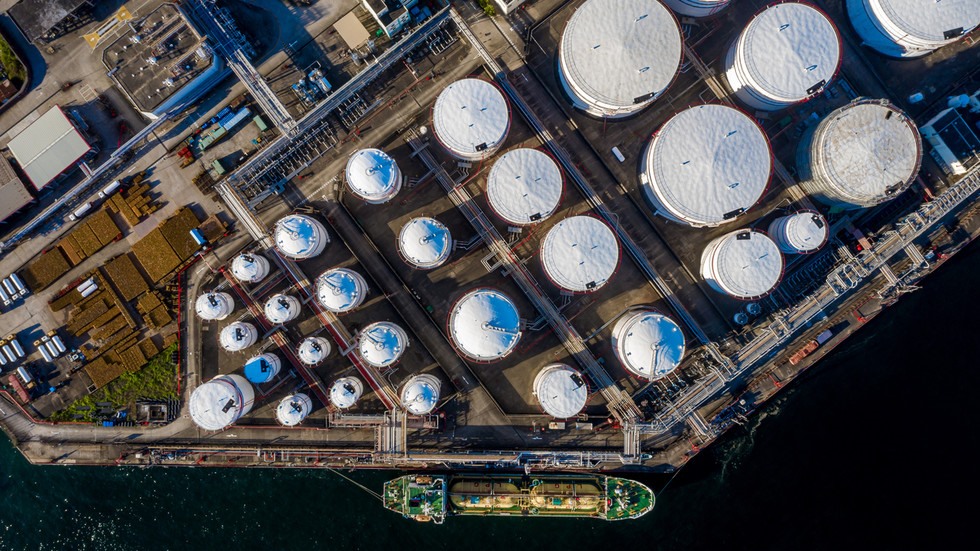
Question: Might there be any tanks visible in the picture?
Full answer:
Yes, this view includes a tank.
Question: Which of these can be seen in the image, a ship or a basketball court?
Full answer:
This aerial view contains a ship.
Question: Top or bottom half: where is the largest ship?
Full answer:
It is in the bottom half that the largest ship appears.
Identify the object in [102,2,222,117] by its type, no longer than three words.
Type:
building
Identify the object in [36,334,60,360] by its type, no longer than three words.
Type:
truck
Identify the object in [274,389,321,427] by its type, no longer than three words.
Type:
storage tank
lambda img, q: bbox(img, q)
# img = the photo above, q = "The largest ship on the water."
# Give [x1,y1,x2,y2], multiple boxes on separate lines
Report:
[382,474,657,523]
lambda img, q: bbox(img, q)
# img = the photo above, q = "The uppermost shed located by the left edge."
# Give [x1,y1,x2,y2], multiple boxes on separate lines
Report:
[6,0,97,47]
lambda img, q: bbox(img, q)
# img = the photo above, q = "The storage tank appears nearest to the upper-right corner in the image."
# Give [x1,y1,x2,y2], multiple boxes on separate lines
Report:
[843,0,980,64]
